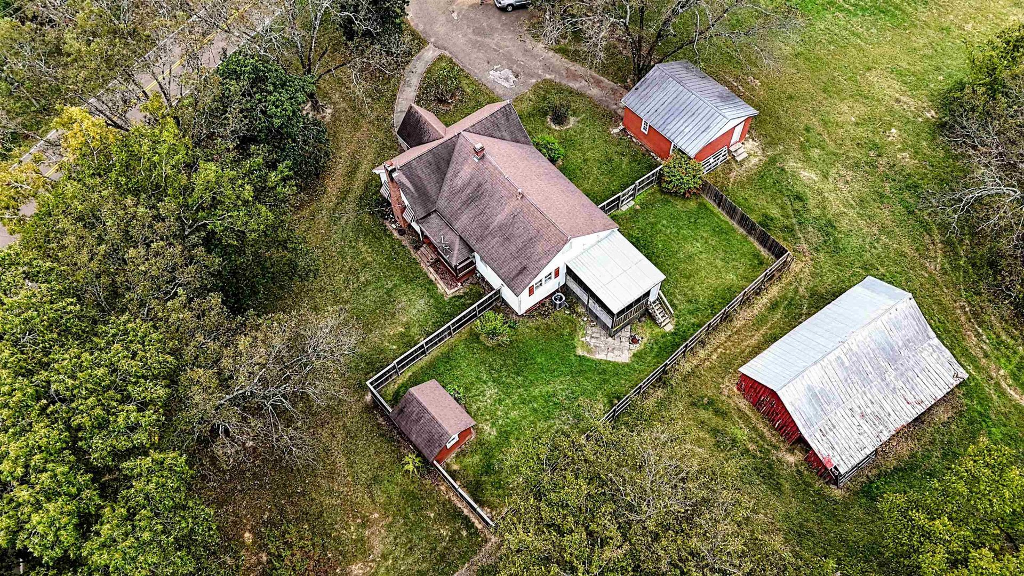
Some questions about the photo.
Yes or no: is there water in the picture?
No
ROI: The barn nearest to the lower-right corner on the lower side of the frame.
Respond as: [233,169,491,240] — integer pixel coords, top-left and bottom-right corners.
[738,277,970,489]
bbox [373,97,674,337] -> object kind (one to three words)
house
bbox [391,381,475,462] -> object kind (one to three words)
shed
